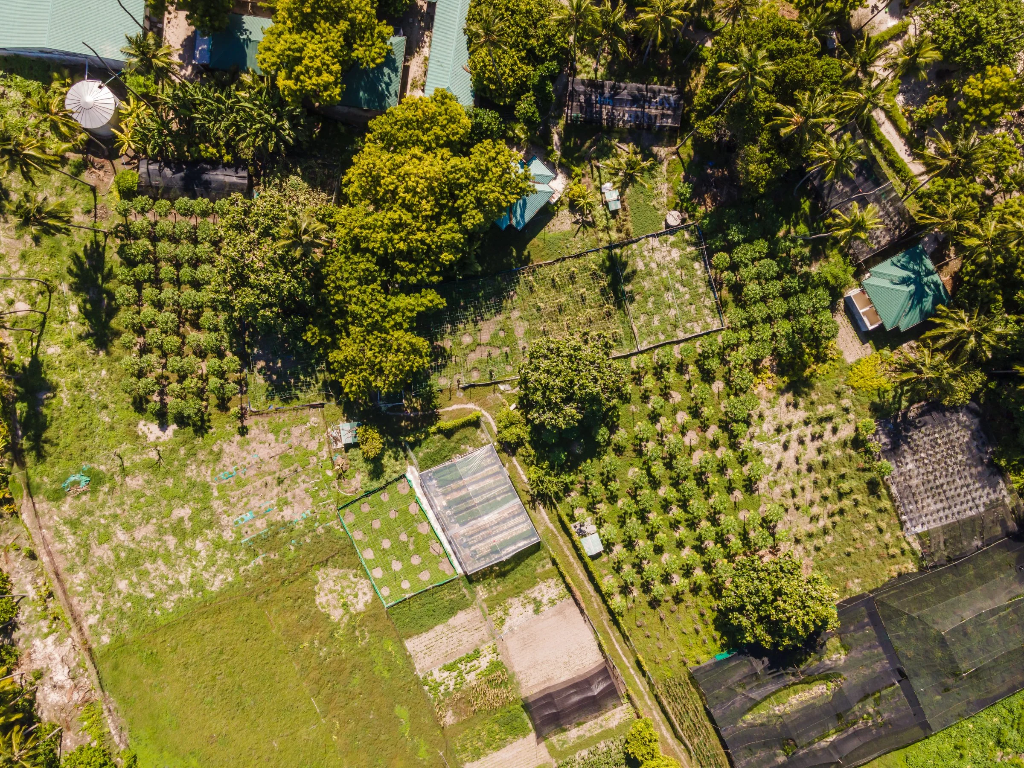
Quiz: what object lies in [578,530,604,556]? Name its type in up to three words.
shed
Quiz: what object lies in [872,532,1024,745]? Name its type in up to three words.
house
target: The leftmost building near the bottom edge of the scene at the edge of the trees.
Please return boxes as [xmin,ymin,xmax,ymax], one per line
[691,596,932,768]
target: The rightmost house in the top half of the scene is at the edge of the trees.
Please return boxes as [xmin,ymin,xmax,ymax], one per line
[854,242,954,331]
